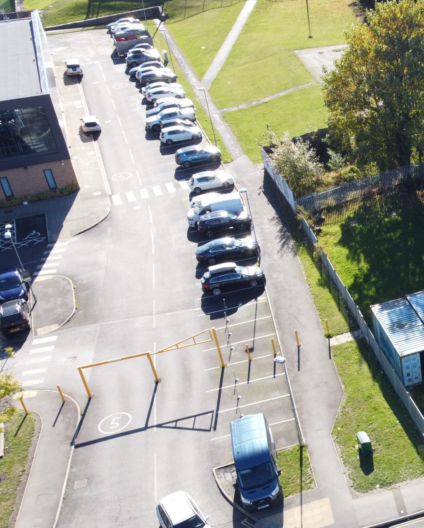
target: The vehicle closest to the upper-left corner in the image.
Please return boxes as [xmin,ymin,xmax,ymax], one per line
[61,61,79,77]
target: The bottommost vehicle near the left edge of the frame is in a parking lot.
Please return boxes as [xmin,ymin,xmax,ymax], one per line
[0,297,30,336]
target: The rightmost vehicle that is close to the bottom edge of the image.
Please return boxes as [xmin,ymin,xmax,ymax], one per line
[222,416,290,518]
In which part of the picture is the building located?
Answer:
top left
